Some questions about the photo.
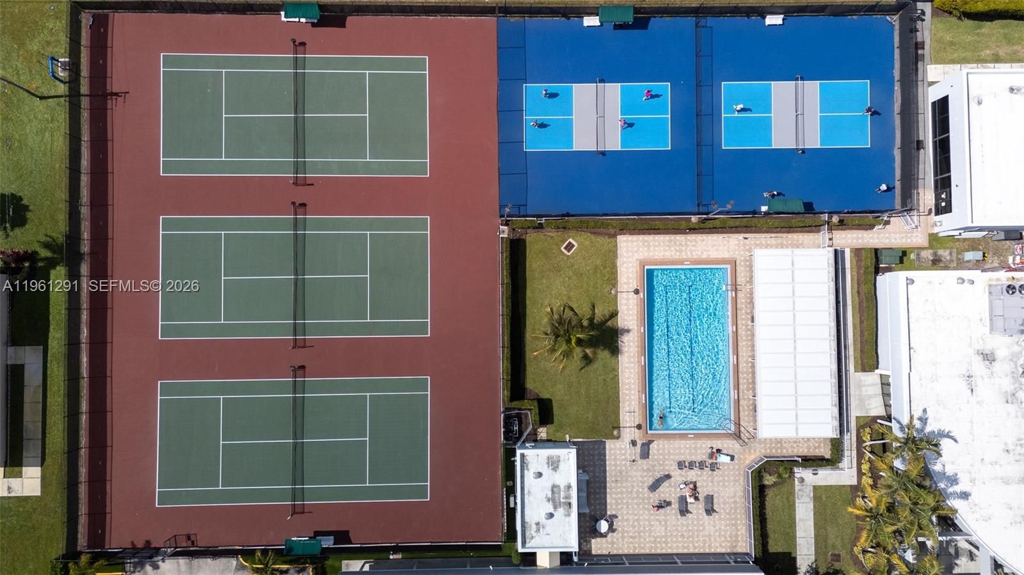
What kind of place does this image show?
sports ground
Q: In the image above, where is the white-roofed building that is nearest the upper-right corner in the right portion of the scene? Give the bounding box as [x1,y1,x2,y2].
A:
[930,70,1024,231]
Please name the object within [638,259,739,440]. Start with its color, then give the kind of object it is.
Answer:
blue swimming pool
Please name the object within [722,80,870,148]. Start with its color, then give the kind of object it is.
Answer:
blue sports court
